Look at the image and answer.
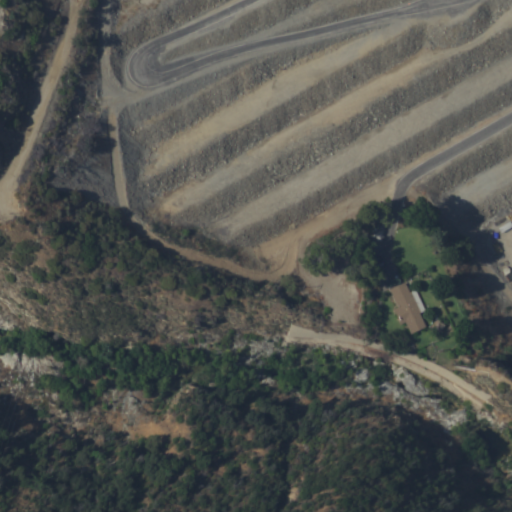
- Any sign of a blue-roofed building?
No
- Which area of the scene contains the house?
right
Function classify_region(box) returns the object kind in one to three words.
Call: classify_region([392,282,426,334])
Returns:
house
